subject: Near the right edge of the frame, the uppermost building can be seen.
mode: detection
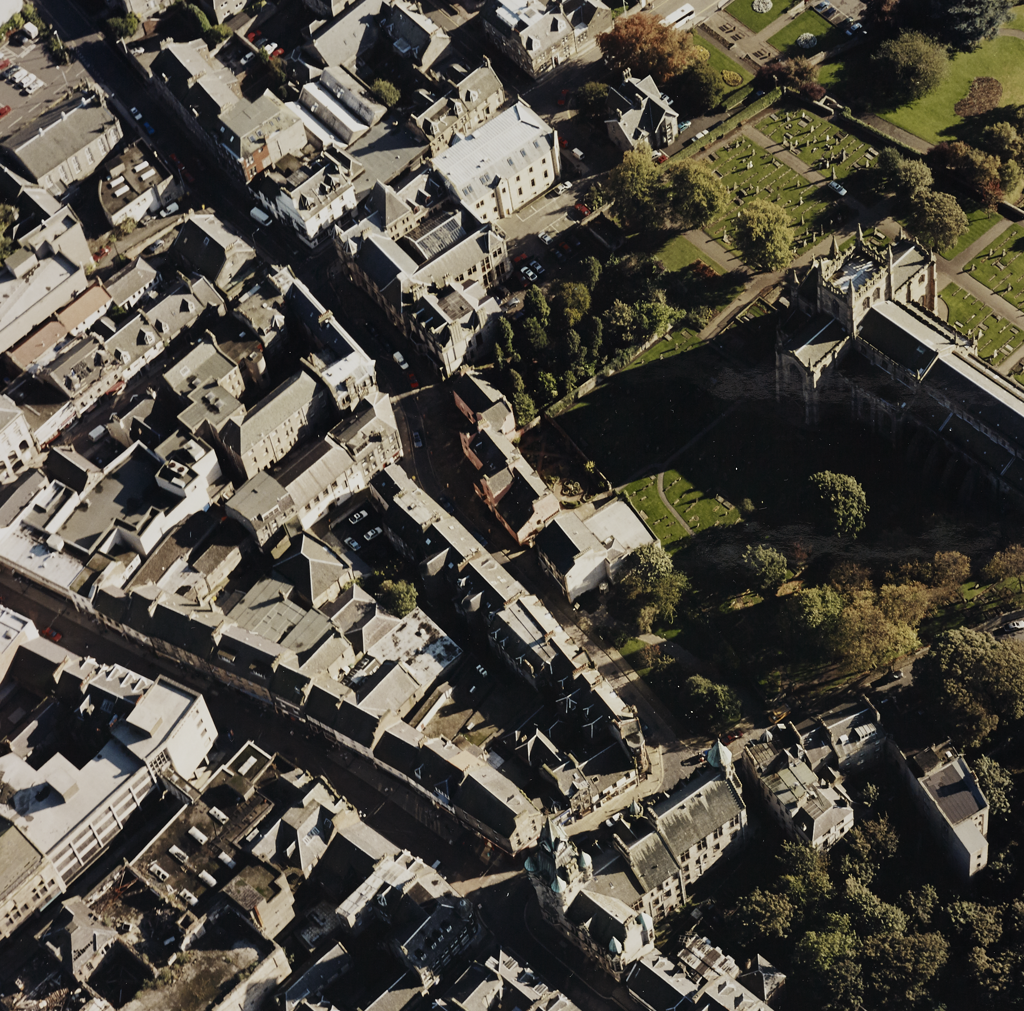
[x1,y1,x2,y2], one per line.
[771,228,1024,559]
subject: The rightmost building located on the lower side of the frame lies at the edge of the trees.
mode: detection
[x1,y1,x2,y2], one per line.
[913,751,989,870]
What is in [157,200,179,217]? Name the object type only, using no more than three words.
vehicle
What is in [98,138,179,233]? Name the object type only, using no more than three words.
building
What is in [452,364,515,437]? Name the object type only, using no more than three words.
house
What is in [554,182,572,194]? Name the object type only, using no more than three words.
vehicle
